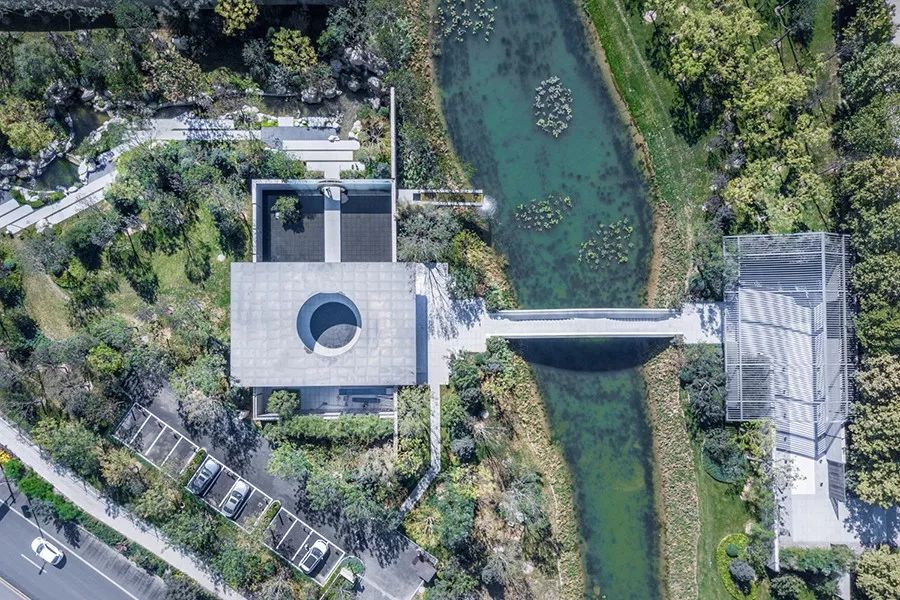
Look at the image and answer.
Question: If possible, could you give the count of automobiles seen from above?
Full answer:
My tally gives 4 automobiles in this view.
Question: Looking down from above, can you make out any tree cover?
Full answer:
Yes, tree cover can be seen from above here.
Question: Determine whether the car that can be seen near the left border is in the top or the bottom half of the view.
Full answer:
Seen from above, the car that can be seen near the left border lies in the bottom half of the view.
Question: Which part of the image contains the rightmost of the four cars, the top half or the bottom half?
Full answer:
The rightmost of the four cars sits in the bottom half of the picture.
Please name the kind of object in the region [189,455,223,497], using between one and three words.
car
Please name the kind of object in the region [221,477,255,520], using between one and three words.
car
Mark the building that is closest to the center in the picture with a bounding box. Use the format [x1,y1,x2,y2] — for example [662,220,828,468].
[230,263,417,386]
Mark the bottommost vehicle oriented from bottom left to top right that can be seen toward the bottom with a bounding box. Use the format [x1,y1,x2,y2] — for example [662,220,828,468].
[298,534,333,577]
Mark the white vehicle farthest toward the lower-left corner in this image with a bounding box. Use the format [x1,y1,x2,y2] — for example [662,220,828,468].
[28,535,67,569]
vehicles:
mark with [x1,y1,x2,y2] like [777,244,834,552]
[298,534,333,577]
[189,455,223,497]
[221,477,255,520]
[28,535,67,569]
